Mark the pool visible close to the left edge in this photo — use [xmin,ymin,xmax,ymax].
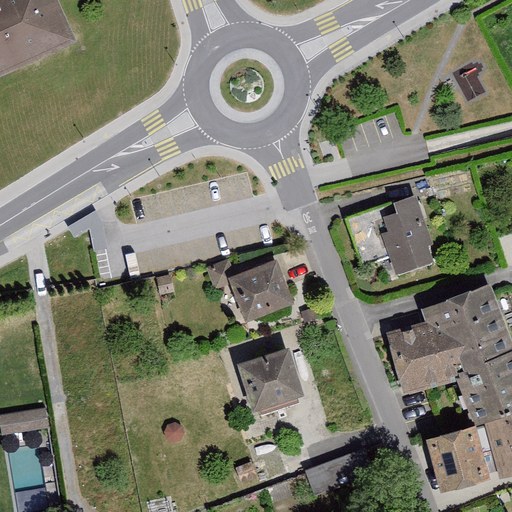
[4,430,60,512]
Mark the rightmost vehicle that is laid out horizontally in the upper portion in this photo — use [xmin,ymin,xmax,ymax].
[387,187,410,200]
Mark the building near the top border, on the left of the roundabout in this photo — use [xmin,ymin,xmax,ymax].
[0,0,76,76]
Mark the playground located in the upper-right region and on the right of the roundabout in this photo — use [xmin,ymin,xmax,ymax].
[440,59,488,103]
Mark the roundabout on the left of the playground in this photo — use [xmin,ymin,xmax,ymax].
[182,21,312,150]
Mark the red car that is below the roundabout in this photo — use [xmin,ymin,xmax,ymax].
[288,266,308,278]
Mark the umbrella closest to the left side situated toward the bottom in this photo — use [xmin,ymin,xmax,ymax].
[2,435,20,453]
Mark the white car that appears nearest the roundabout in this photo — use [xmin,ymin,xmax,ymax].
[208,179,220,202]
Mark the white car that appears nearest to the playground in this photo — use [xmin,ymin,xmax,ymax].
[376,118,390,137]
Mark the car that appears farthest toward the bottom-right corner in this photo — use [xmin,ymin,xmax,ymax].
[426,468,439,490]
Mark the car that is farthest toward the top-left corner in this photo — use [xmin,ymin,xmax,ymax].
[134,199,146,221]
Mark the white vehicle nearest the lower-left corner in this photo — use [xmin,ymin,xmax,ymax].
[35,271,48,296]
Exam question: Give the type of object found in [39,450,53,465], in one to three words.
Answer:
umbrella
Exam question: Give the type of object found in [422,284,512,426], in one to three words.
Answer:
house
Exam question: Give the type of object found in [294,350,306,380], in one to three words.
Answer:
boat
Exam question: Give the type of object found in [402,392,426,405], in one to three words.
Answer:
vehicle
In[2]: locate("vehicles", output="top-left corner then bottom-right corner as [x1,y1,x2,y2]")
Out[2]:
[260,222,272,244]
[288,266,308,278]
[426,468,439,490]
[376,118,390,137]
[402,406,426,418]
[208,179,220,202]
[35,271,48,296]
[402,392,426,405]
[387,187,410,200]
[125,252,140,276]
[134,199,146,221]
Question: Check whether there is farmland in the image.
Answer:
No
